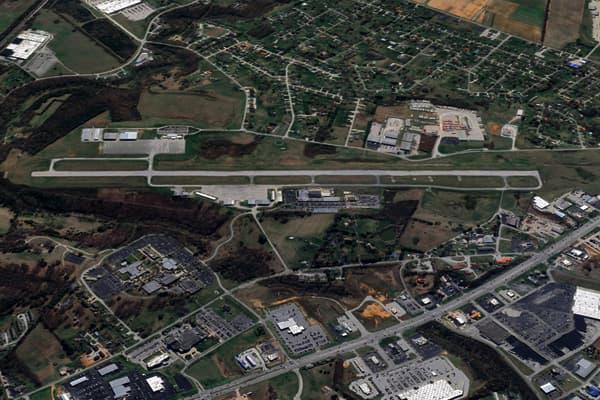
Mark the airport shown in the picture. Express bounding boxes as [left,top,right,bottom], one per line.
[32,139,543,201]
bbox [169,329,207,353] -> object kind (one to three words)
building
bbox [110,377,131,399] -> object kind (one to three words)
building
